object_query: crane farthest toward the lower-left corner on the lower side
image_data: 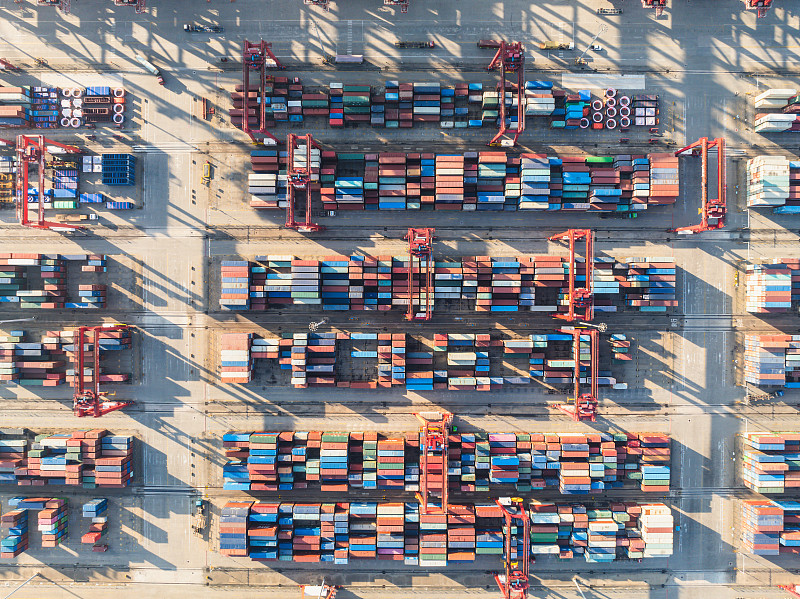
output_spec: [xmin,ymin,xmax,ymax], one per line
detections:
[76,326,138,421]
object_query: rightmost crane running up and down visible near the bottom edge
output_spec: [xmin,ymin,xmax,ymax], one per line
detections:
[489,496,530,599]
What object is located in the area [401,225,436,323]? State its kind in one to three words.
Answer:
crane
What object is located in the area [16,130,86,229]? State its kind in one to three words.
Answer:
crane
